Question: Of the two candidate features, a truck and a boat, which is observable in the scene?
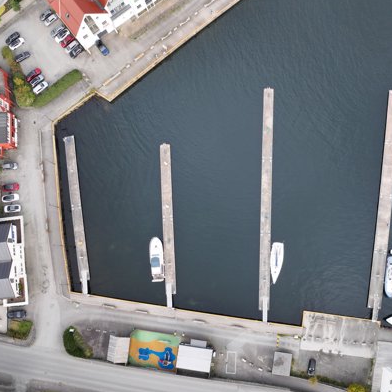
boat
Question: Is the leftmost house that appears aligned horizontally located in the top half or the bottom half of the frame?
top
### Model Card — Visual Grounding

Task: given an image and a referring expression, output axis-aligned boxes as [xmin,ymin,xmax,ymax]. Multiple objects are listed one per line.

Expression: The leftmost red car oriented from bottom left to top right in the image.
[26,67,42,81]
